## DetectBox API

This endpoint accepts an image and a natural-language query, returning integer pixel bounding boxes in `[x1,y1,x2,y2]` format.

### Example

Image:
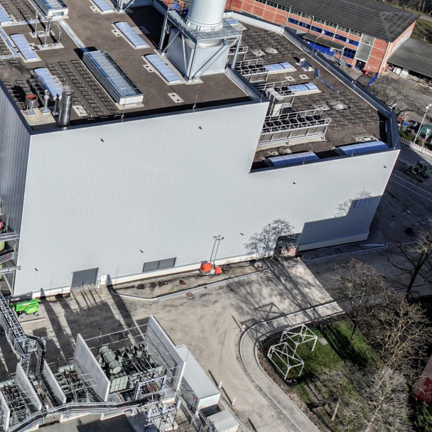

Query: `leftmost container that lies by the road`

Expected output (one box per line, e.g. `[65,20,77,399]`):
[174,344,221,411]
